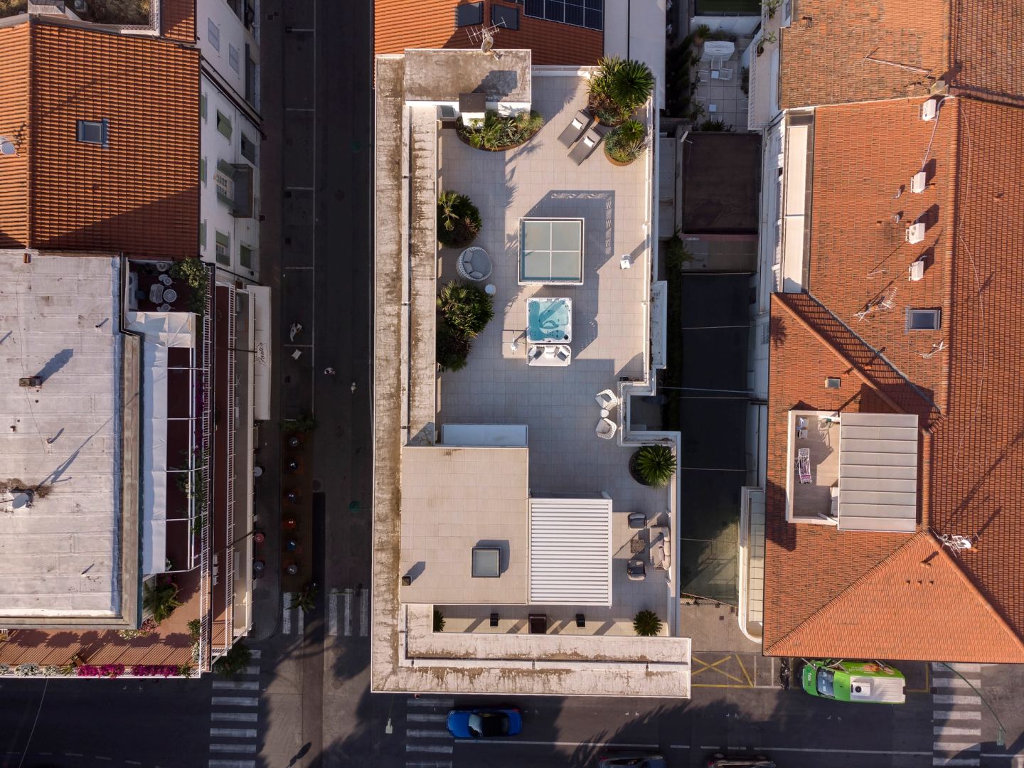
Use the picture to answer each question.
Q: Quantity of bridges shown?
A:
none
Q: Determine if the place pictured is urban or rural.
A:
urban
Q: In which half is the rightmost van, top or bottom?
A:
bottom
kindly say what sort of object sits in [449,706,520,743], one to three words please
car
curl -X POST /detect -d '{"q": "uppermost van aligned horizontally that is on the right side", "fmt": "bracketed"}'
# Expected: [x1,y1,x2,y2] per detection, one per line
[798,661,907,706]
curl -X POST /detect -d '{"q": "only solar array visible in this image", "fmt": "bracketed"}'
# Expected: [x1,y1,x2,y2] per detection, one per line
[523,0,597,26]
